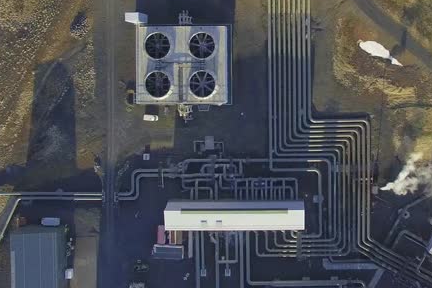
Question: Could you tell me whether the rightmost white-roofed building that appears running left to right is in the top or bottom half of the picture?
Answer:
bottom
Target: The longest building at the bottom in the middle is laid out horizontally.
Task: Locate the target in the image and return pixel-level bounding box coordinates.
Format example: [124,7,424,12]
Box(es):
[165,202,304,231]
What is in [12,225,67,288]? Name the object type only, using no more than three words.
shed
